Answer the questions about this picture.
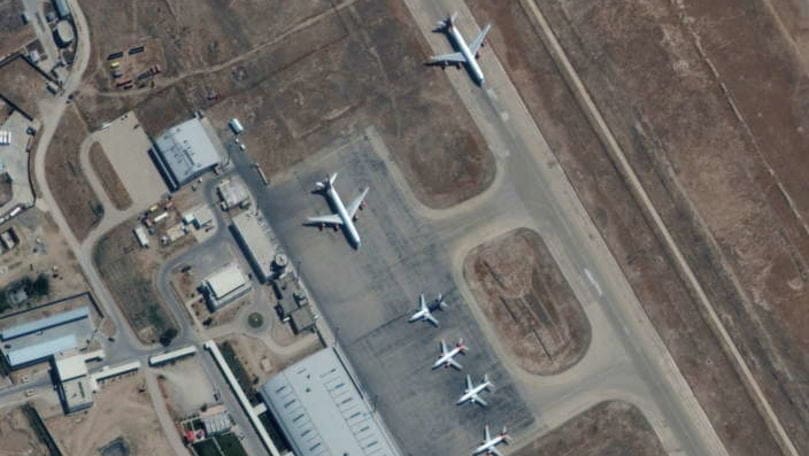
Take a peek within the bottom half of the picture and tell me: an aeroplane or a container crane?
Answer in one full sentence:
It is an aeroplane that can be seen within the bottom half of the picture.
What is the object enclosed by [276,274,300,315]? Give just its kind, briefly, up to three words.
building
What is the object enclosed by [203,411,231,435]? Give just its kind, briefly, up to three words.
house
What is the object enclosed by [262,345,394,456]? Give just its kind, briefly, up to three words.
building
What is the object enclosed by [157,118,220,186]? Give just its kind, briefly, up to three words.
hangar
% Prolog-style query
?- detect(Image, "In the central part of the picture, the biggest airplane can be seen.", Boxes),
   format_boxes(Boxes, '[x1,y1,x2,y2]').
[307,176,371,247]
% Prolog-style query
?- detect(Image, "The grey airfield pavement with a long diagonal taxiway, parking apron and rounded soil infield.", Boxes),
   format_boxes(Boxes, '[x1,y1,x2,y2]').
[226,0,726,456]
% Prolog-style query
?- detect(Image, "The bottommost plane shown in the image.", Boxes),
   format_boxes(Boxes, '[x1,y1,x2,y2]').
[472,428,509,456]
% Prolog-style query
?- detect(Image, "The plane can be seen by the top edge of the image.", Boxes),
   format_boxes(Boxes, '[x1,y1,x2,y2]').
[431,13,493,82]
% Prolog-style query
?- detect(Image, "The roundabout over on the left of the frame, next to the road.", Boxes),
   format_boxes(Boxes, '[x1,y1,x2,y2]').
[240,305,271,335]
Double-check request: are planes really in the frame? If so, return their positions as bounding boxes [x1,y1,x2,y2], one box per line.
[408,293,446,325]
[307,176,371,247]
[472,428,509,456]
[431,13,493,82]
[433,339,469,369]
[457,376,493,406]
